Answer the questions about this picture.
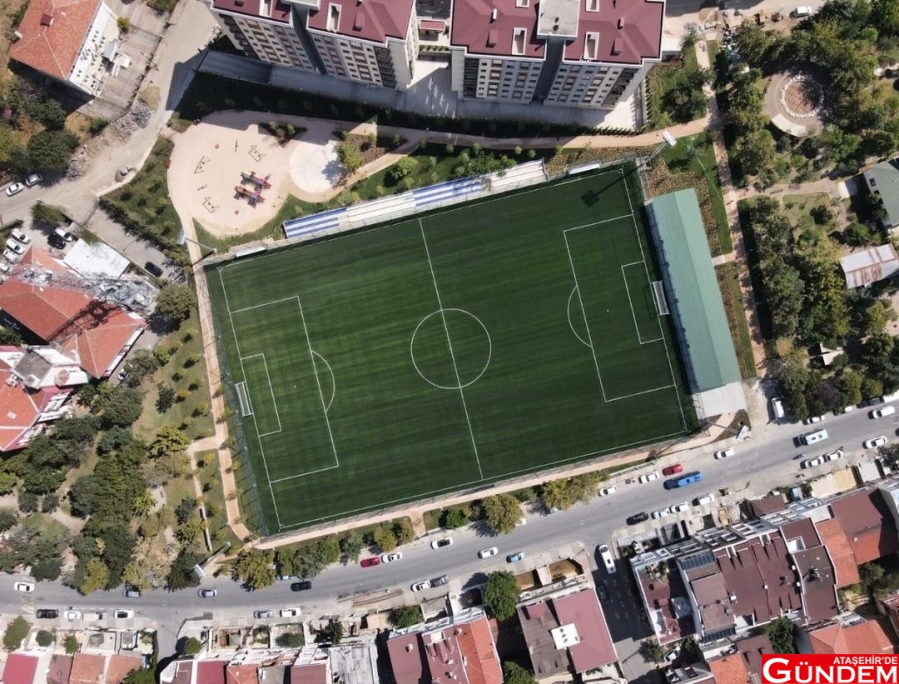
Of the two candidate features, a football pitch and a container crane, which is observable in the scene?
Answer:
football pitch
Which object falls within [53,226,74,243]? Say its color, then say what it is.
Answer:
white car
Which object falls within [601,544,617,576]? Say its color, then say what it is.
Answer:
white vehicle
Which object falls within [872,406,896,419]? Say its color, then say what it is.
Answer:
white vehicle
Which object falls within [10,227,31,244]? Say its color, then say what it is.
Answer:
white car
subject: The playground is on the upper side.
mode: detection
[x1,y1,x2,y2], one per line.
[165,110,355,229]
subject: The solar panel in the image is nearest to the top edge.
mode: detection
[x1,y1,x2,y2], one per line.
[680,553,715,573]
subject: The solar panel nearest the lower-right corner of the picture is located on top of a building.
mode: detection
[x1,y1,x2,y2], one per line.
[702,629,736,647]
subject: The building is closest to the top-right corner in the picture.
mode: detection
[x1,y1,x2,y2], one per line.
[849,149,899,228]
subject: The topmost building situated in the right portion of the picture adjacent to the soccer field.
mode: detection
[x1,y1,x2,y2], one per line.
[449,0,667,112]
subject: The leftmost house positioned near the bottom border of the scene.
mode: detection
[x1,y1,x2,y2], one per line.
[3,641,57,684]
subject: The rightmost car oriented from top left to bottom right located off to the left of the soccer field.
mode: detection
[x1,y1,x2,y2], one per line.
[143,261,163,277]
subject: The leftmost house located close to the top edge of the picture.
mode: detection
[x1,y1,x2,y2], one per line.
[9,0,135,96]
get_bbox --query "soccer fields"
[202,161,701,535]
